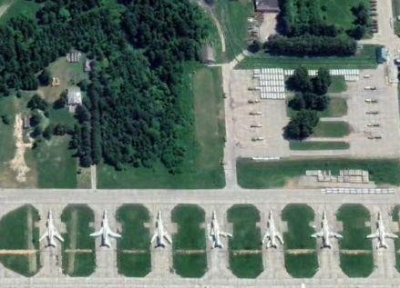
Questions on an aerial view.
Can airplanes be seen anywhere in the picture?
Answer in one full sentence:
Yes, there's an airplane here.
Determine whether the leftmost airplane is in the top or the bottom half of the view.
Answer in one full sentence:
The leftmost airplane sits in the bottom half of the picture.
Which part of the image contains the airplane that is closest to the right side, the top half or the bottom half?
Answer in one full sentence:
The airplane that is closest to the right side sits in the bottom half of the picture.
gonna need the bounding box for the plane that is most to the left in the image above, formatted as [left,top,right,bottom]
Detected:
[40,209,64,247]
